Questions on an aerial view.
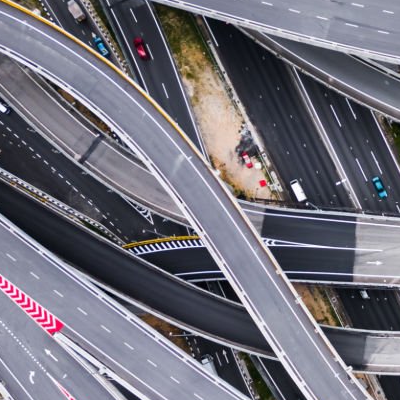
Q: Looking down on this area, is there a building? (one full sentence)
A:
No, the photo shows no building.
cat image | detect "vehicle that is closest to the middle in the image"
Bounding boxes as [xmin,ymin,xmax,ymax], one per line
[289,179,306,204]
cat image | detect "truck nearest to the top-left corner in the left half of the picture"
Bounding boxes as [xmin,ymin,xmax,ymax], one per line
[66,0,87,25]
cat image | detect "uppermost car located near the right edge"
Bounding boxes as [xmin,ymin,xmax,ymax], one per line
[372,175,386,198]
